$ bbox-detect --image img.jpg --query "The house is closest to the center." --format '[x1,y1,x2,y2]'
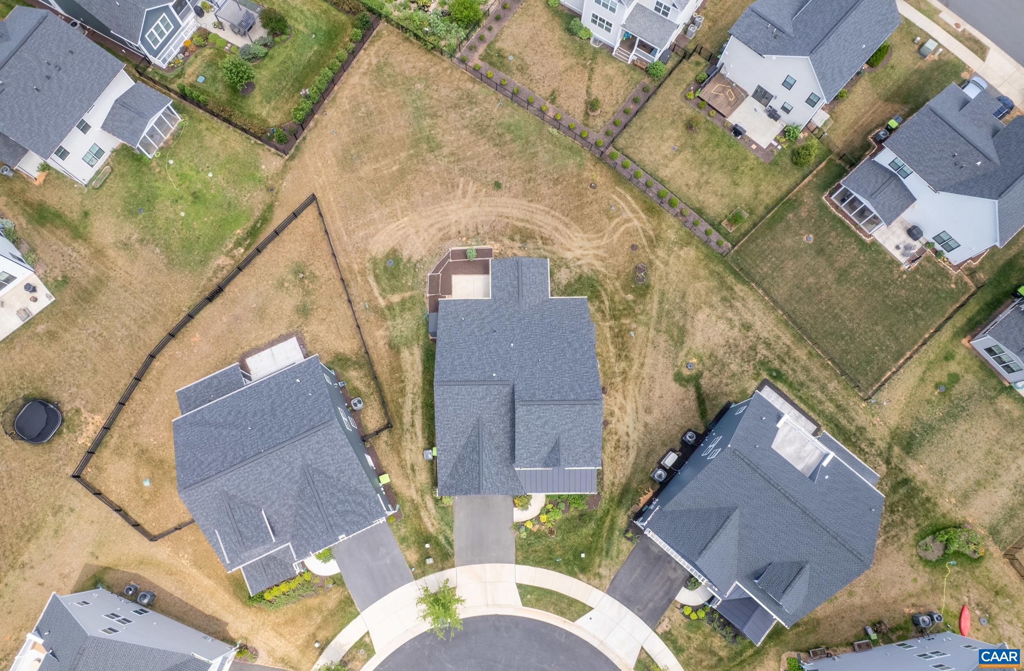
[428,255,604,498]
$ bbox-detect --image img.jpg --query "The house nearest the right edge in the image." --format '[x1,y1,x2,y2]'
[969,295,1024,385]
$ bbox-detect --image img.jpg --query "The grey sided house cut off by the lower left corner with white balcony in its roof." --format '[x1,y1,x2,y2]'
[14,576,244,671]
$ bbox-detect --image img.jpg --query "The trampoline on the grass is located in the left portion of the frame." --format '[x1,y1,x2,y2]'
[0,393,76,447]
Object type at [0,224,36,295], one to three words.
house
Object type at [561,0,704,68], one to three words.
house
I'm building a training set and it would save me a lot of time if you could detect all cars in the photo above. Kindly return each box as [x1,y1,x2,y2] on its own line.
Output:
[961,70,989,97]
[993,88,1019,124]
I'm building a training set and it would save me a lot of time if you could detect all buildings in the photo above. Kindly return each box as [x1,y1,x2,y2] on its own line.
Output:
[831,80,1024,267]
[716,0,906,135]
[172,354,401,596]
[561,0,704,68]
[0,1,183,186]
[428,255,604,498]
[0,224,36,295]
[633,389,885,648]
[969,295,1024,385]
[14,576,244,671]
[798,631,1024,671]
